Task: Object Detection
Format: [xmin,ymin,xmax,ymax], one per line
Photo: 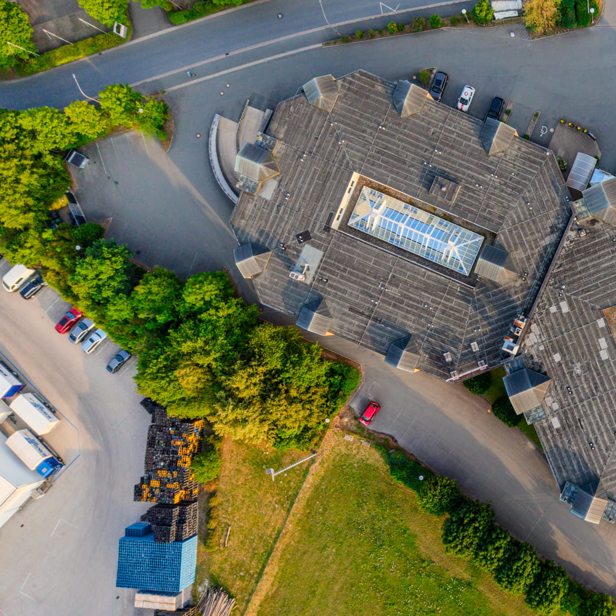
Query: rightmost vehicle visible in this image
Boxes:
[482,94,504,120]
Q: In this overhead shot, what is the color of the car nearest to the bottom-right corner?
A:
red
